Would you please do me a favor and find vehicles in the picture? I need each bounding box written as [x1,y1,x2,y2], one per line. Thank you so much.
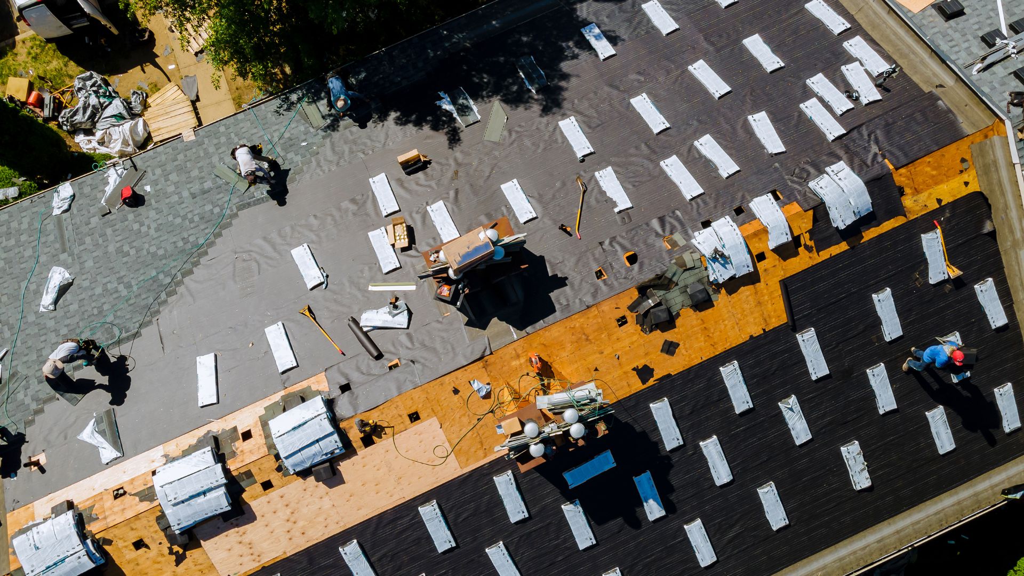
[9,0,104,49]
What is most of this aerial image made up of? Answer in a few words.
buildings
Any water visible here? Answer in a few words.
No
